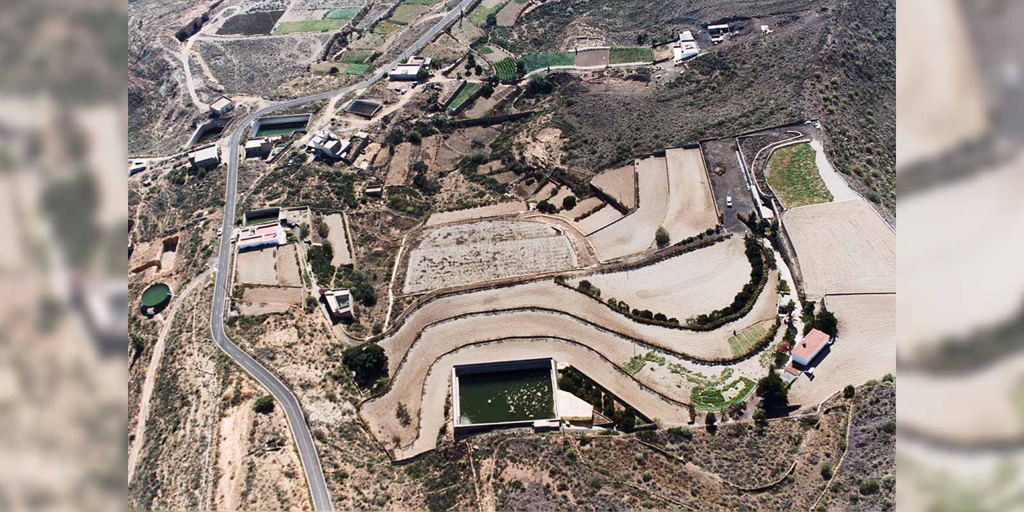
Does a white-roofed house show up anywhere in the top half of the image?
Yes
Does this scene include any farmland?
Yes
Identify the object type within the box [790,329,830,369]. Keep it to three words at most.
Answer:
house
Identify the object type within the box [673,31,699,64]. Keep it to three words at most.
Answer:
house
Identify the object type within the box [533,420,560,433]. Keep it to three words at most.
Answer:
shed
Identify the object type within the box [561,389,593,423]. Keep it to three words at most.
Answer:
shed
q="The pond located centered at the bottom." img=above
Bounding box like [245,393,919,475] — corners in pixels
[452,358,561,434]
